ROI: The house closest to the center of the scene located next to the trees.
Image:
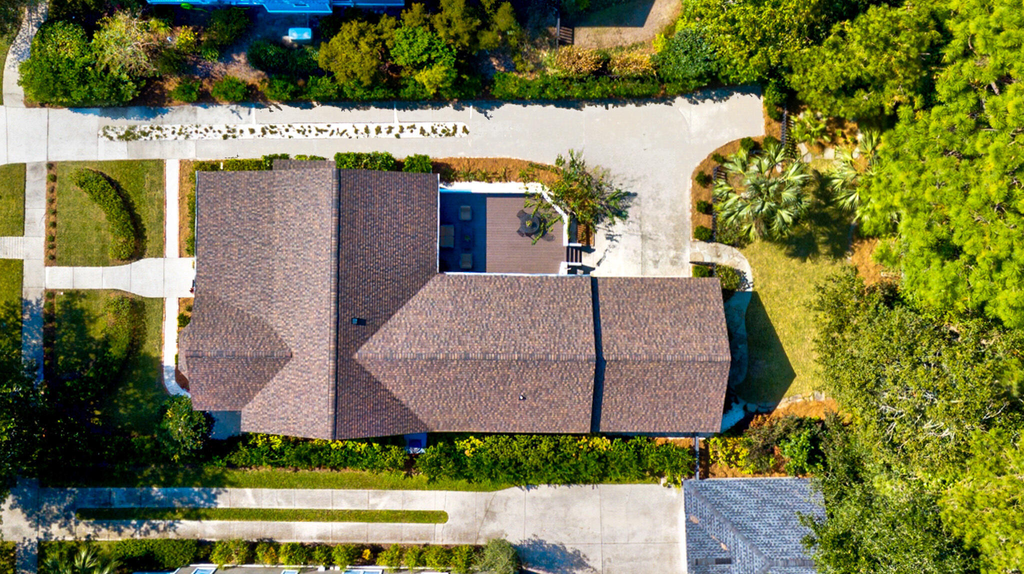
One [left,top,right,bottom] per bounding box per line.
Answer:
[179,160,731,439]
